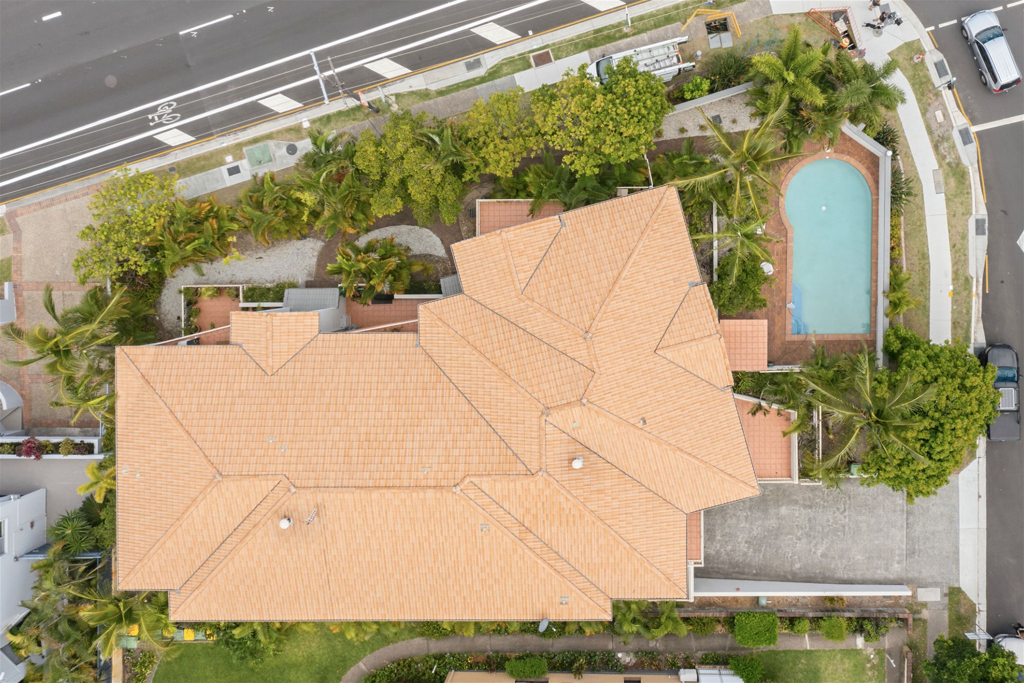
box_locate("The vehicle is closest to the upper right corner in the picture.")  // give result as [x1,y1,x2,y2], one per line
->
[958,5,1024,100]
